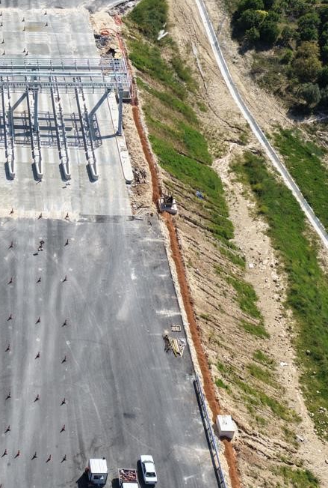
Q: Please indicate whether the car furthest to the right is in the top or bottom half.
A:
bottom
